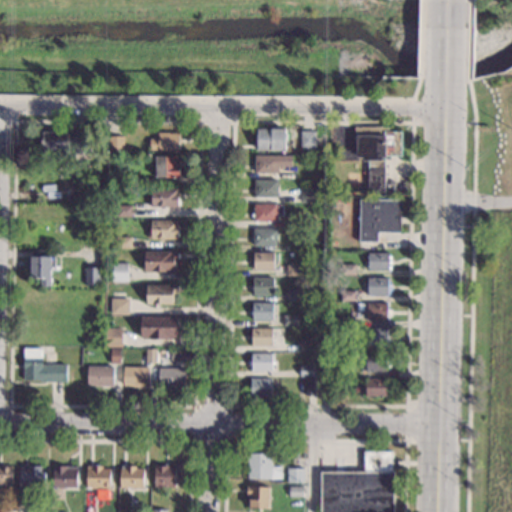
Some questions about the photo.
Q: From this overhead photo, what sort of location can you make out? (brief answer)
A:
residential area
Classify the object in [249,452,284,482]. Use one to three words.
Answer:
house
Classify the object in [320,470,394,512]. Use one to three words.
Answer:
building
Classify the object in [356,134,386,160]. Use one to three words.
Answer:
building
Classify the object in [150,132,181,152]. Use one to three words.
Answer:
house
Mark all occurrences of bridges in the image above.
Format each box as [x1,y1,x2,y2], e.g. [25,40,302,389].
[418,0,477,80]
